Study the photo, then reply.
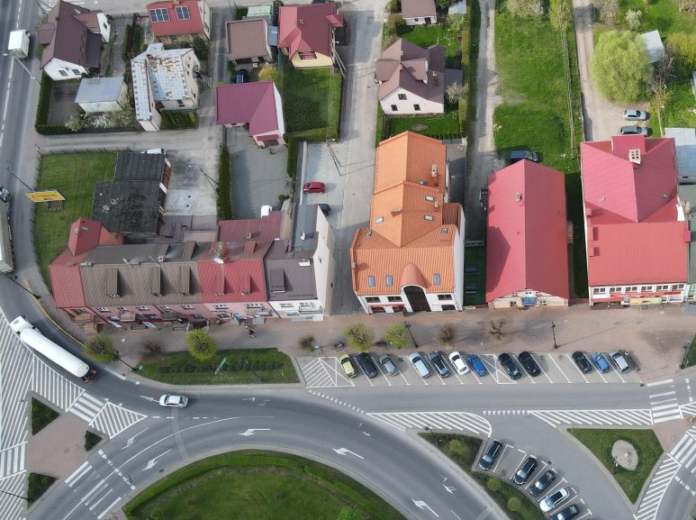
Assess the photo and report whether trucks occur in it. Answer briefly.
Yes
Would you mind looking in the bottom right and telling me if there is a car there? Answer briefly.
Yes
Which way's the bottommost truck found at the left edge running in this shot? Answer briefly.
at an angle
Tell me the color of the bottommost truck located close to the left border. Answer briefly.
white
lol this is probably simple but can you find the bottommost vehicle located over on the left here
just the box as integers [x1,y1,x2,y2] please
[159,393,188,407]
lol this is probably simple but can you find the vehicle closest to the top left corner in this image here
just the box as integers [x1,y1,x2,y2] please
[8,29,33,69]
